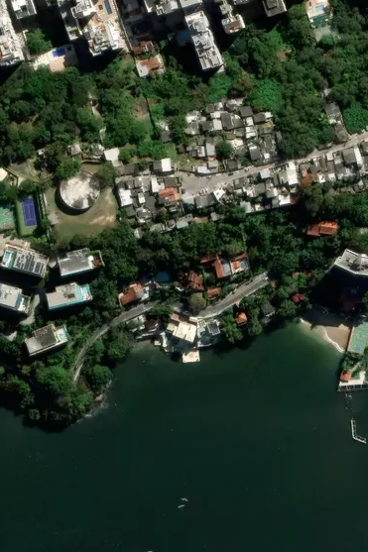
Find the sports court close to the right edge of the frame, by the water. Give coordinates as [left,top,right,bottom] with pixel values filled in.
[348,322,368,352]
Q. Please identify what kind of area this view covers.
residential area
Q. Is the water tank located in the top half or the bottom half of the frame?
top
